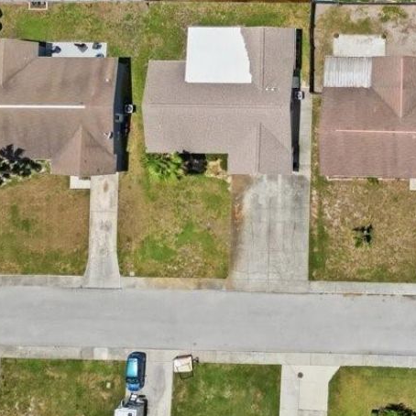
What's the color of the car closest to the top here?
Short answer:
blue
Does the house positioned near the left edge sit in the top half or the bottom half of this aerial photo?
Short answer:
top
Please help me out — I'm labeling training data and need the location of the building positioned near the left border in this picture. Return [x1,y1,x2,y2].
[0,38,124,178]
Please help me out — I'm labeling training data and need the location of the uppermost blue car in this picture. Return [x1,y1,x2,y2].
[124,351,146,391]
